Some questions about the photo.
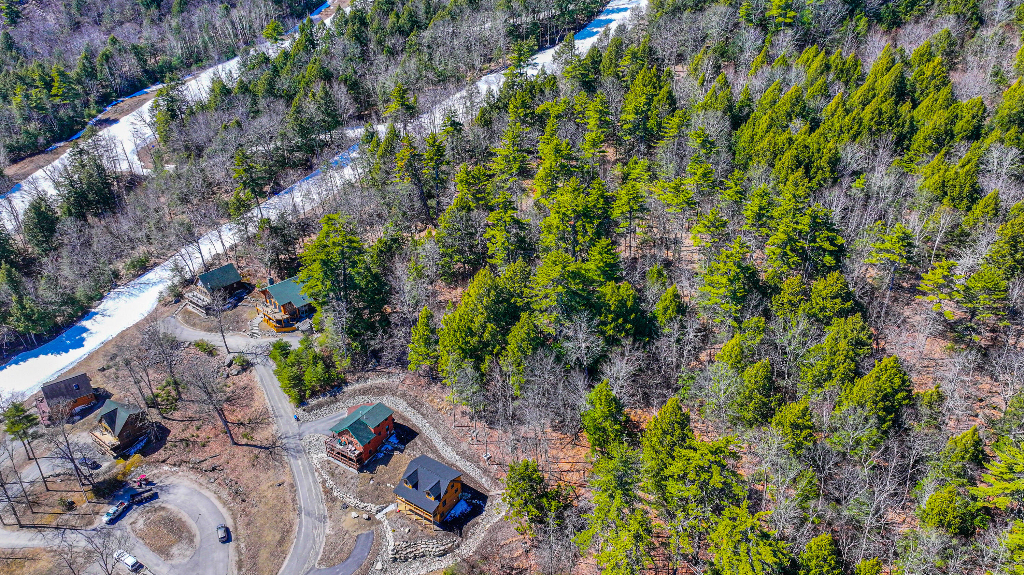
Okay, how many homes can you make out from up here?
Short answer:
6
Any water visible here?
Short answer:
No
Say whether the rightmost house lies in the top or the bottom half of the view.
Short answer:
bottom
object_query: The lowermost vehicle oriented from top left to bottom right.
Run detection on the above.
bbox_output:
[114,550,143,572]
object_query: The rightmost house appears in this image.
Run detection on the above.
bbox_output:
[392,455,463,530]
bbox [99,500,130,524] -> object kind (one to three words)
truck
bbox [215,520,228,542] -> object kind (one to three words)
vehicle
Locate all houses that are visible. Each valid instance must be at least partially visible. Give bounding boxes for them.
[256,274,320,331]
[325,402,396,475]
[33,372,96,429]
[184,263,243,316]
[392,455,463,530]
[87,399,147,457]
